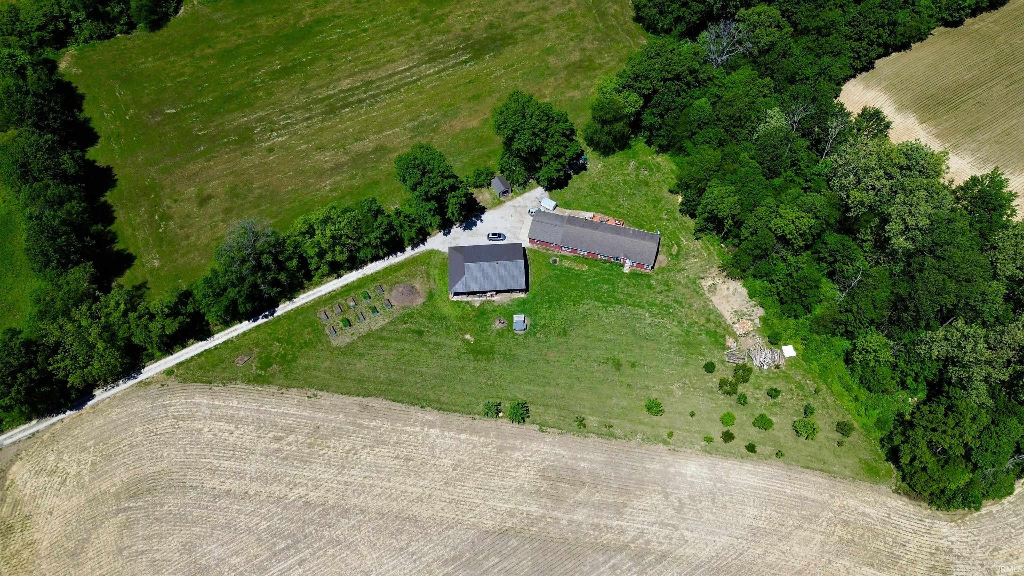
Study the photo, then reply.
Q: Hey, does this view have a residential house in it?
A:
Yes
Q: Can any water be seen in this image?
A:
No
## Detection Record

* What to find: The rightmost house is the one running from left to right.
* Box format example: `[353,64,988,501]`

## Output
[528,210,660,273]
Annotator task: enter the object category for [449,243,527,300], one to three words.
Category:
barn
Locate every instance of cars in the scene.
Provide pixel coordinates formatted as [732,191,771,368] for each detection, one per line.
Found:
[487,234,505,243]
[526,209,544,219]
